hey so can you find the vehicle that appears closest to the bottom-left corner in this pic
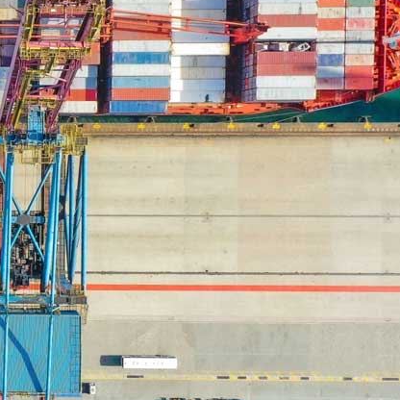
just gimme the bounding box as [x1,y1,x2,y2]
[82,381,95,394]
